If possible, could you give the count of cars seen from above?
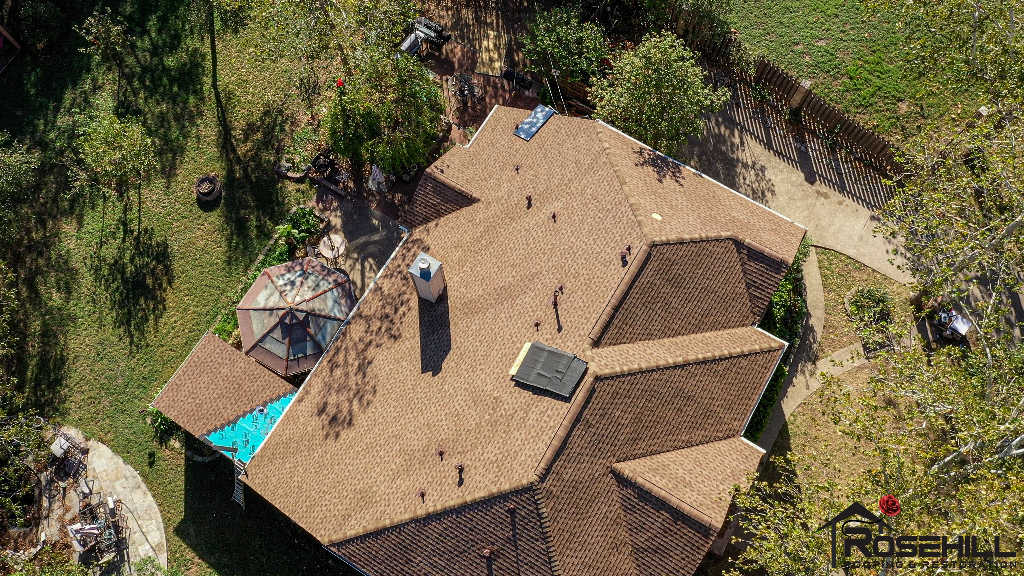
zero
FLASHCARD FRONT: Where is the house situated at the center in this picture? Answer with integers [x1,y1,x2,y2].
[232,105,810,576]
